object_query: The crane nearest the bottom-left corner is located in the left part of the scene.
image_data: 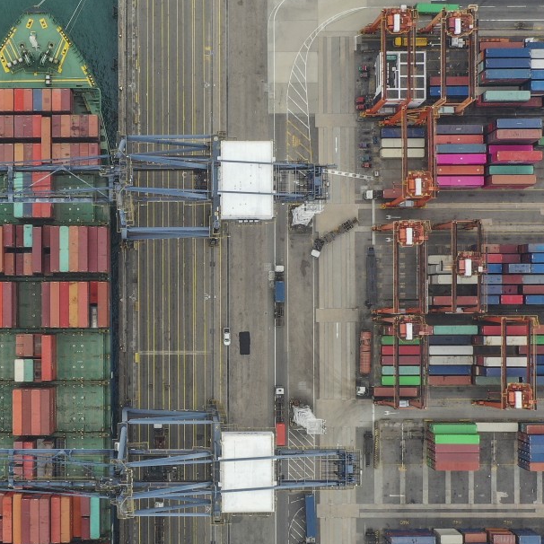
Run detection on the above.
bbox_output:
[0,400,361,519]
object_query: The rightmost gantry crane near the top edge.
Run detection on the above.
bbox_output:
[414,3,479,114]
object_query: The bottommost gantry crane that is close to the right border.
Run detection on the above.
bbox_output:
[468,314,537,414]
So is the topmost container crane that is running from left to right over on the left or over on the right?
left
